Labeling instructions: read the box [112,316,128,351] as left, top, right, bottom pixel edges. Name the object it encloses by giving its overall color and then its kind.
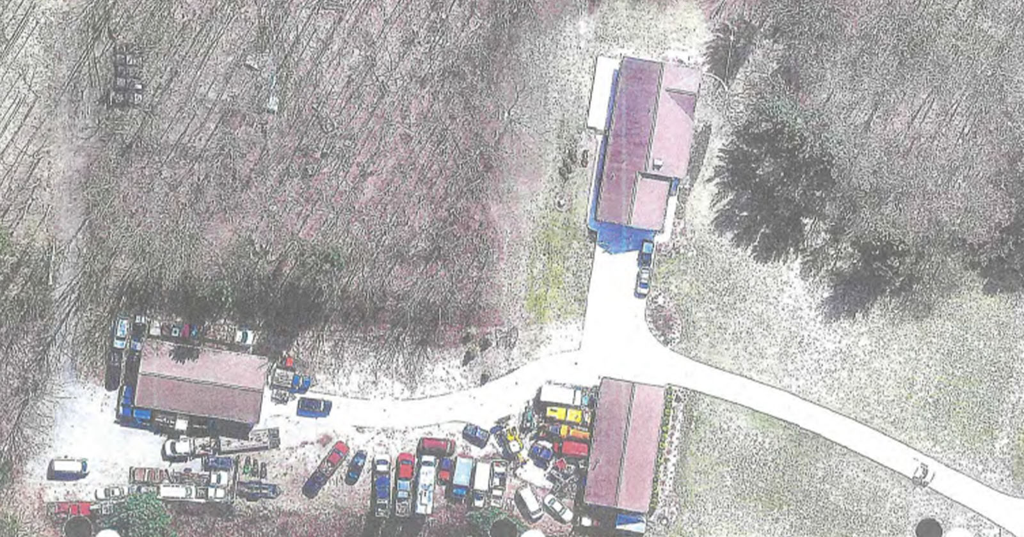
white car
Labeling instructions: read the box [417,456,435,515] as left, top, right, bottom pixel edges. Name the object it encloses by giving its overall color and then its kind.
white camper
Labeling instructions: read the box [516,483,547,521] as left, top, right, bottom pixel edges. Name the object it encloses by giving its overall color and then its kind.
white van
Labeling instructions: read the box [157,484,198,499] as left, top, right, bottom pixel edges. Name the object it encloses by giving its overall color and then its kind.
white vehicle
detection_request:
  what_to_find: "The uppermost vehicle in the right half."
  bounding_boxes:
[638,240,653,267]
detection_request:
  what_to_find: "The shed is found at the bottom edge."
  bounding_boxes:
[583,376,667,515]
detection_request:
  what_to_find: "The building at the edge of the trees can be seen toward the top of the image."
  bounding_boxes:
[595,57,702,235]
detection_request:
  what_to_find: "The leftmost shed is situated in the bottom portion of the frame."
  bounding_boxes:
[132,333,269,424]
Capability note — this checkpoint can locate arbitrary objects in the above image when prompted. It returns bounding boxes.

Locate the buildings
[595,57,702,235]
[132,333,269,424]
[583,376,667,515]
